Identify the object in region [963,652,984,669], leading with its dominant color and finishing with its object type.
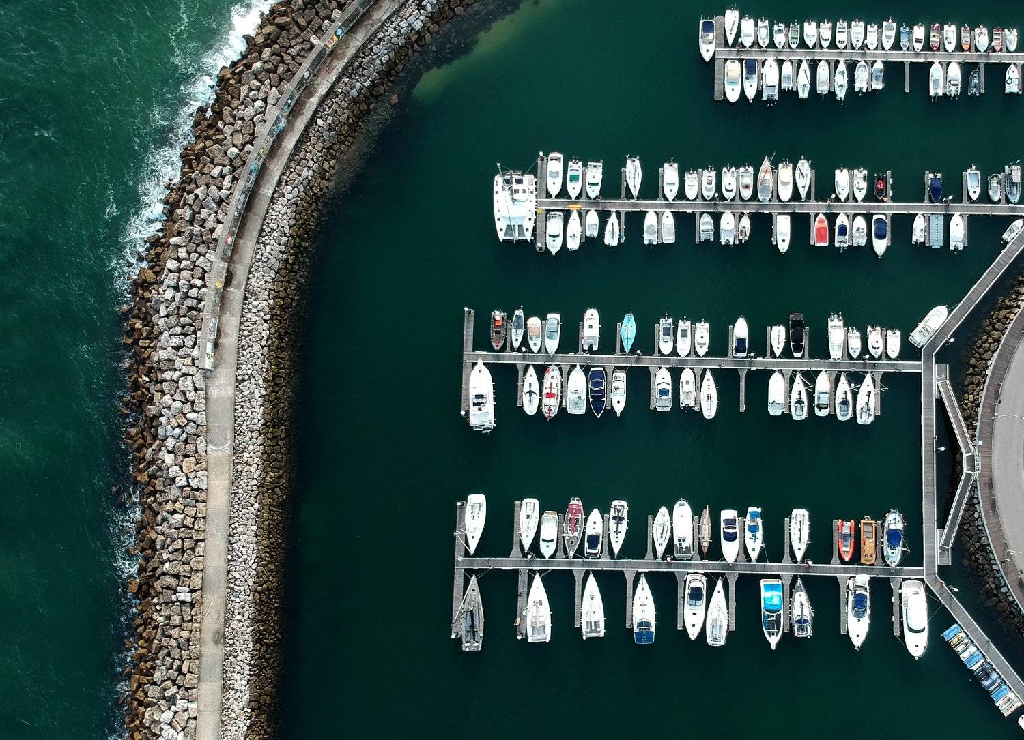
blue boat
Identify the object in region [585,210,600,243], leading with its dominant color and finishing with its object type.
white boat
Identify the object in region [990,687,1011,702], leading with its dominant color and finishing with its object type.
blue boat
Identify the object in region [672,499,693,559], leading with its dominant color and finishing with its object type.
white boat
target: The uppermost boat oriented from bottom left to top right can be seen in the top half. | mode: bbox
[1000,219,1024,245]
